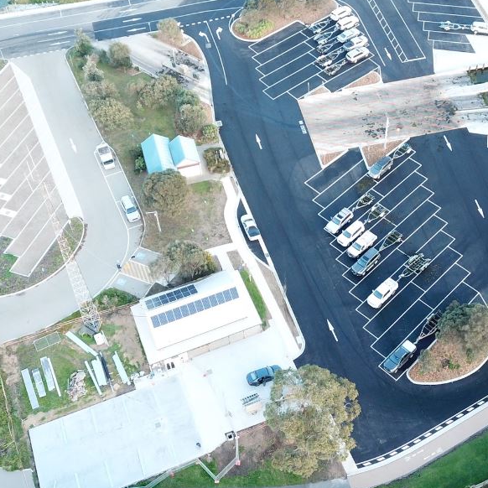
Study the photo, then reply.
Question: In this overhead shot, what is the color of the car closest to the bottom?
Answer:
blue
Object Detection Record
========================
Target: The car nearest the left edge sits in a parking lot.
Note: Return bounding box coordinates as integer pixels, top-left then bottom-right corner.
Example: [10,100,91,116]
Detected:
[98,144,116,170]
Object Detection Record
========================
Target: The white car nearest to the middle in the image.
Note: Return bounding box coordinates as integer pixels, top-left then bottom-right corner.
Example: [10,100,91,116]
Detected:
[241,216,260,242]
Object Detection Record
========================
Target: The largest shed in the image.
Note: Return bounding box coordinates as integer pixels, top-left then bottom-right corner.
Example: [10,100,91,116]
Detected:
[131,269,262,370]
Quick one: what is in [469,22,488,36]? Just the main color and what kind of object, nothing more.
white vehicle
